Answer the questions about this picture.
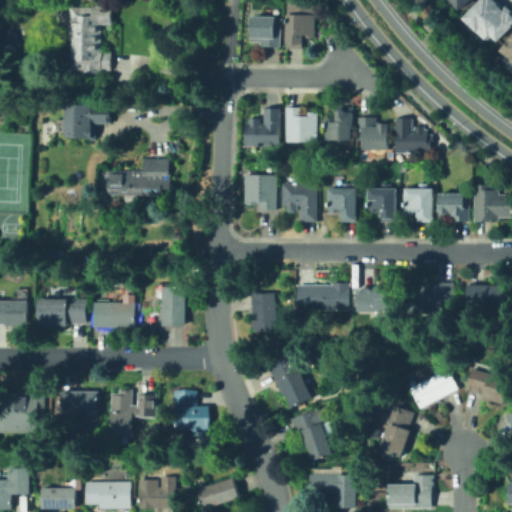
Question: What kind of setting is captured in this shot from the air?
residential area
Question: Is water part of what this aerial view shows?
No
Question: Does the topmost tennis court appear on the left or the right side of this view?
left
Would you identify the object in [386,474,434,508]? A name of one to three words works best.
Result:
house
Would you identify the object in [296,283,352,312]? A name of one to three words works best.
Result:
house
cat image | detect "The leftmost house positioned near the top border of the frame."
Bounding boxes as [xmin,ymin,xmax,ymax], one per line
[68,8,112,72]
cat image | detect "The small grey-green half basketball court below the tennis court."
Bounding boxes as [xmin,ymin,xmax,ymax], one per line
[0,214,20,242]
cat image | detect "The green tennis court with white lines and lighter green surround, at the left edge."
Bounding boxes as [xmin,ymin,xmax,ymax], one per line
[0,133,30,213]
